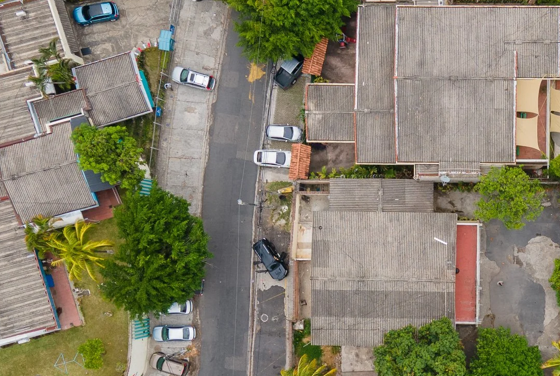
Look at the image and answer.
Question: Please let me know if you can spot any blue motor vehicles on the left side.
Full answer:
Yes, the scene does show a blue motor vehicle on the left side.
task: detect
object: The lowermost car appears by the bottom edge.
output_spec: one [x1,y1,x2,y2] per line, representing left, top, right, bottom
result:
[150,352,192,376]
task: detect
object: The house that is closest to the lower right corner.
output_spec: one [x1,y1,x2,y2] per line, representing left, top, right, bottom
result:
[312,180,483,346]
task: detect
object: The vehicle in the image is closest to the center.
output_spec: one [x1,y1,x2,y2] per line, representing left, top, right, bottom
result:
[254,149,292,168]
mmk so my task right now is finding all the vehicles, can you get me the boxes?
[75,2,122,25]
[254,149,292,168]
[174,66,218,92]
[150,352,192,376]
[266,124,304,143]
[268,51,307,93]
[157,300,198,317]
[155,324,198,343]
[249,237,289,280]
